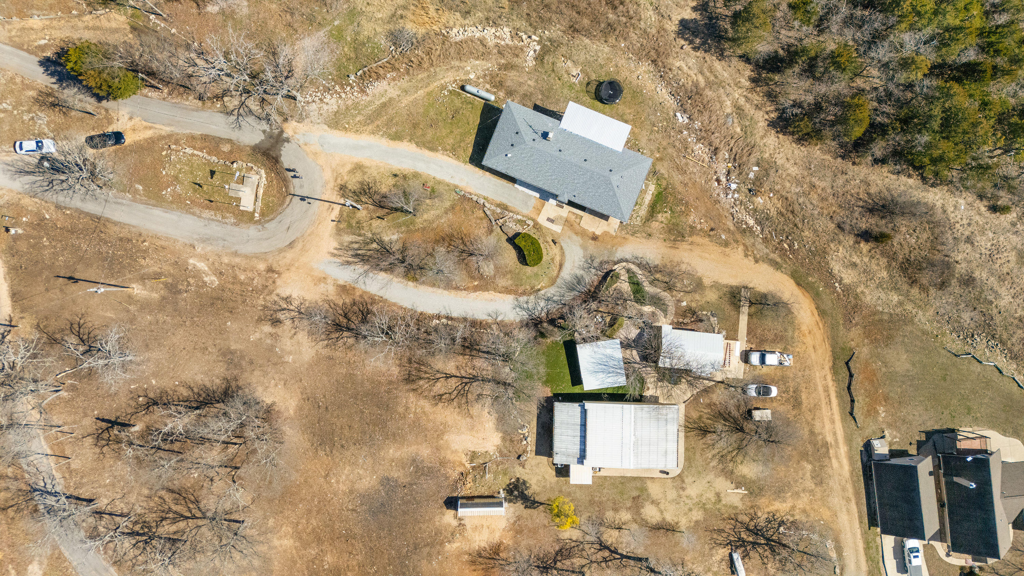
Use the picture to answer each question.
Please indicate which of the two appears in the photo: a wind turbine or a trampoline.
trampoline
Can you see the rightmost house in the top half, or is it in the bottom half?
bottom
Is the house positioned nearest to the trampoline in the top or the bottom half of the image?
top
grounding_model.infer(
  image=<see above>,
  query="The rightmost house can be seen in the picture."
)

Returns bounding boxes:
[930,448,1024,560]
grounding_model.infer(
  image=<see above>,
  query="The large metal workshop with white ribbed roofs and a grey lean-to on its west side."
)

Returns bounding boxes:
[552,399,680,469]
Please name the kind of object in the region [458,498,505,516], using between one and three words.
shed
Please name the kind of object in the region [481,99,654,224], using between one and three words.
house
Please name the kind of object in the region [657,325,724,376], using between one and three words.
building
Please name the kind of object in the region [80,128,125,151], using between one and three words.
car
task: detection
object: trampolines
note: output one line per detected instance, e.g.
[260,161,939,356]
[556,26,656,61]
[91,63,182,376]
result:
[598,73,628,104]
